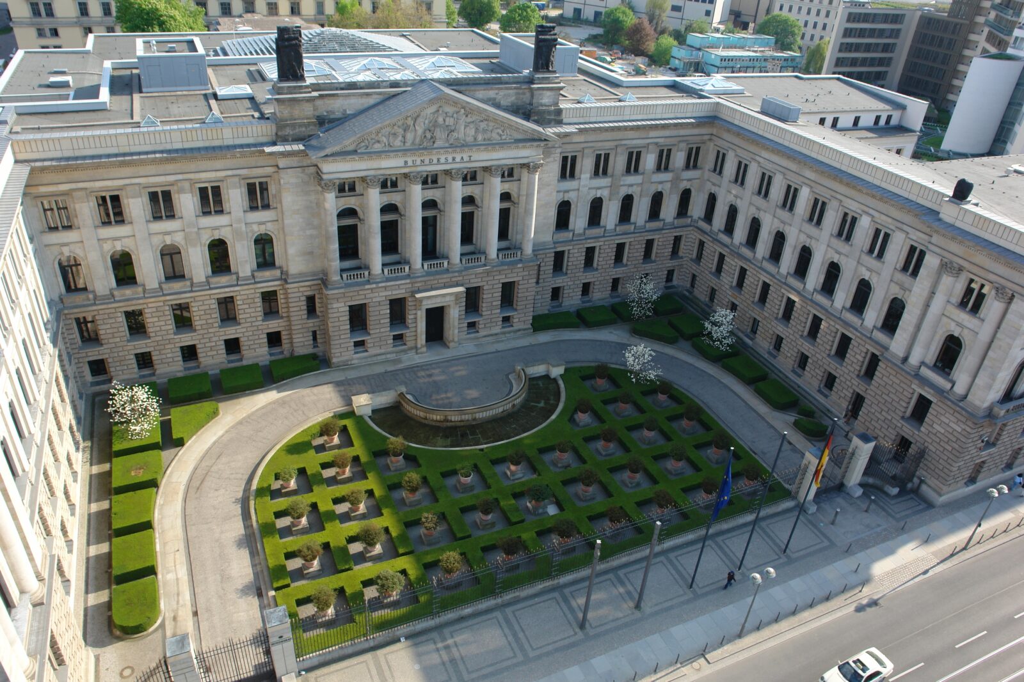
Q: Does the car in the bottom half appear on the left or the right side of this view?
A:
right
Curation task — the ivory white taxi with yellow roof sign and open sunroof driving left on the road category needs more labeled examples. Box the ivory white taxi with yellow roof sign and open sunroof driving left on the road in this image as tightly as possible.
[815,650,891,682]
